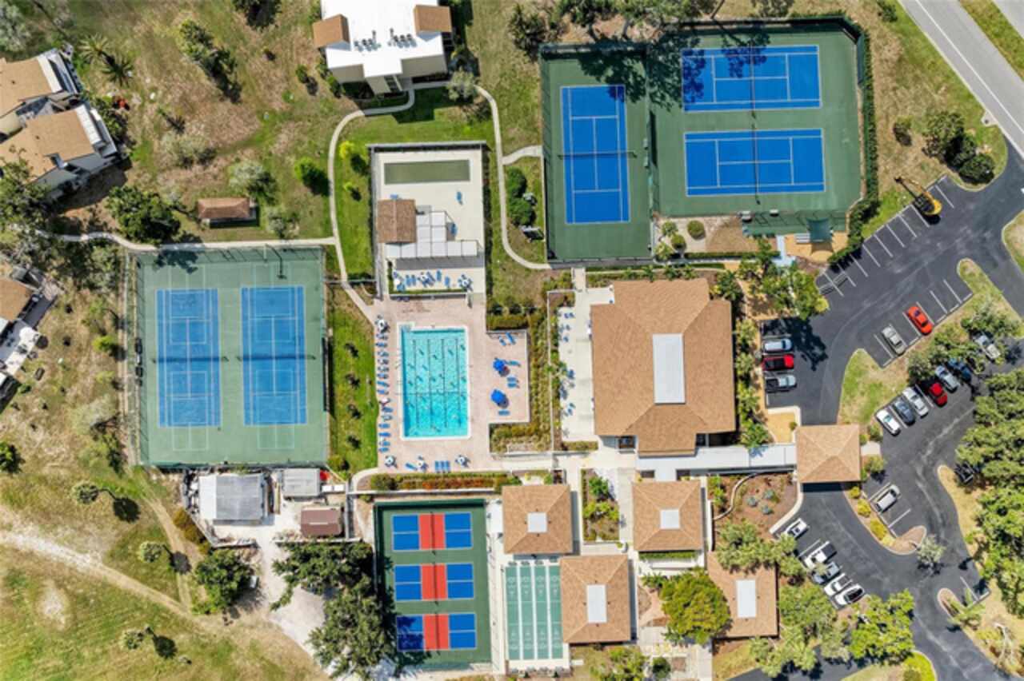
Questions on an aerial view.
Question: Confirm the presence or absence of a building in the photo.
Yes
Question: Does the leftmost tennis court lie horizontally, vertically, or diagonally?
vertically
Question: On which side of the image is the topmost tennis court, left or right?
right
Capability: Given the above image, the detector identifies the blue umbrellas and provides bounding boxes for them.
[490,389,505,404]
[492,359,506,372]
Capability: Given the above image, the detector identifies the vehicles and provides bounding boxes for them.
[871,487,899,513]
[811,556,840,584]
[934,365,960,391]
[761,356,794,369]
[880,326,906,354]
[874,407,900,435]
[907,306,933,334]
[902,388,927,416]
[823,572,853,600]
[897,177,941,215]
[763,376,796,389]
[890,397,915,425]
[923,379,949,407]
[836,582,864,605]
[761,338,791,352]
[784,517,807,537]
[802,538,835,568]
[949,353,974,380]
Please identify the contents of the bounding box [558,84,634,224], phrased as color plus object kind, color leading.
blue tennis court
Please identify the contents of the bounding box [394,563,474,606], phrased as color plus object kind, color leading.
blue sports court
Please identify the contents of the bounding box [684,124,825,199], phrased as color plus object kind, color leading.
blue tennis court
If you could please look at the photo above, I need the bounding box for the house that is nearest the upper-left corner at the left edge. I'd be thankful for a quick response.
[0,46,85,141]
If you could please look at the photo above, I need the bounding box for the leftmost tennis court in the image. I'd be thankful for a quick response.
[150,264,224,450]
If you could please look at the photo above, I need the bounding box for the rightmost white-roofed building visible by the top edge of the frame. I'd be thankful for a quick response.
[313,0,452,92]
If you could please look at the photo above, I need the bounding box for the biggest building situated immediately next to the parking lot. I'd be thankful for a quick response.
[591,278,736,455]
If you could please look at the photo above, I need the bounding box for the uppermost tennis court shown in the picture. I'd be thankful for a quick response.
[681,39,821,115]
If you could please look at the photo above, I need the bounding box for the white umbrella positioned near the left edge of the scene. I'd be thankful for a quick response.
[11,324,35,342]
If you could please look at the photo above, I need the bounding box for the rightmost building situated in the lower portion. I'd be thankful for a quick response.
[791,424,861,483]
